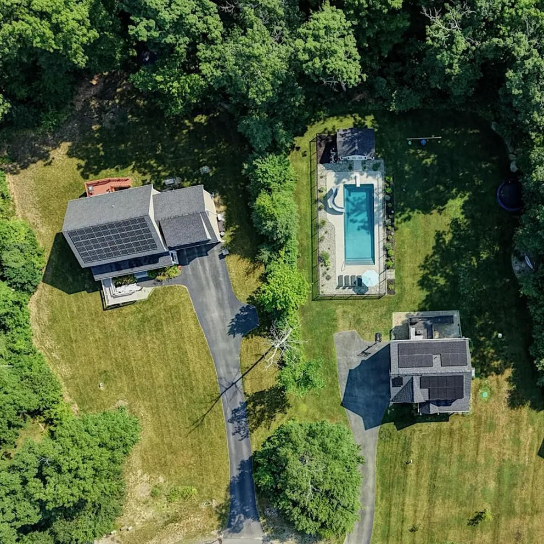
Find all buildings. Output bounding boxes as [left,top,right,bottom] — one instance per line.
[390,310,471,414]
[336,124,375,160]
[63,177,219,284]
